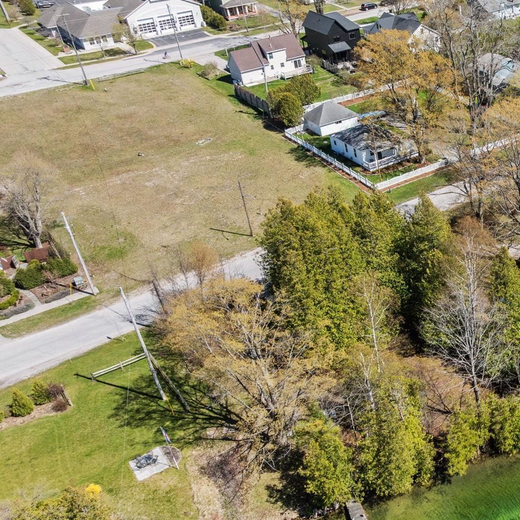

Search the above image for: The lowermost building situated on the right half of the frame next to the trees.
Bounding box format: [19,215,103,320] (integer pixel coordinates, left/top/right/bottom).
[324,117,422,170]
